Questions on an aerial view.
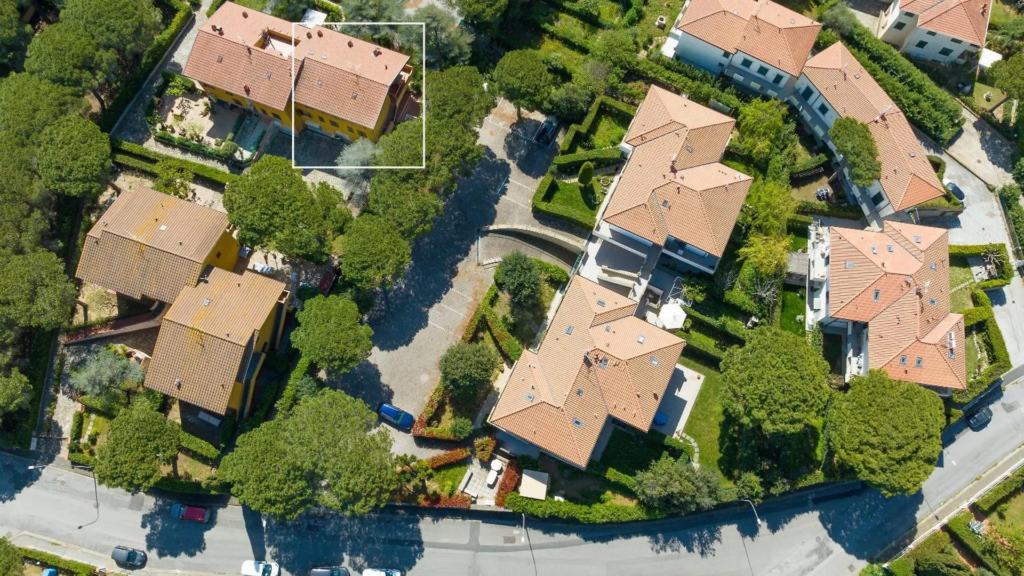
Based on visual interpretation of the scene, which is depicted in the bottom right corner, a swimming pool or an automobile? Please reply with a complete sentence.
There is an automobile in the bottom right corner.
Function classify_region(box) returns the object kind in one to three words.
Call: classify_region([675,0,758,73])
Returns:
house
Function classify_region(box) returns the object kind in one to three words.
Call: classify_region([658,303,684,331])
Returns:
umbrella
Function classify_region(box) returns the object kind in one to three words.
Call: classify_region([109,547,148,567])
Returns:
car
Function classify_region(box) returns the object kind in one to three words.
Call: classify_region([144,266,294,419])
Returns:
house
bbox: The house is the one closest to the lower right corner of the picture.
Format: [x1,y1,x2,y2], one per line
[802,219,967,395]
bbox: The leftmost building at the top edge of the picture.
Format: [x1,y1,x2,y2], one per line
[182,0,314,133]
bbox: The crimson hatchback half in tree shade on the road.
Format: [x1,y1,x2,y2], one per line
[172,503,211,523]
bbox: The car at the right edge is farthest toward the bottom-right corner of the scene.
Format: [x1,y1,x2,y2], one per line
[962,407,995,431]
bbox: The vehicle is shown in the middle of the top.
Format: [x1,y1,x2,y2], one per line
[534,114,560,150]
